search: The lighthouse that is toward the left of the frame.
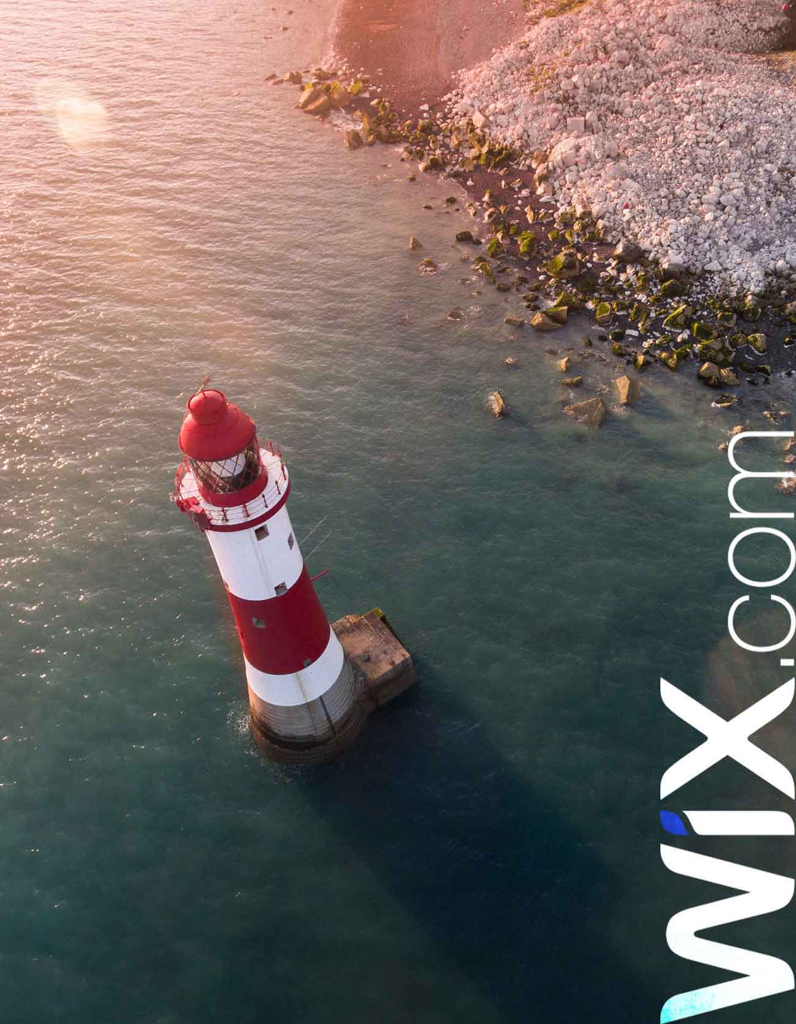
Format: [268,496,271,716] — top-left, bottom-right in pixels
[165,367,368,771]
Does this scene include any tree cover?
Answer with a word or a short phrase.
No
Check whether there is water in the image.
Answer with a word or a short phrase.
Yes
